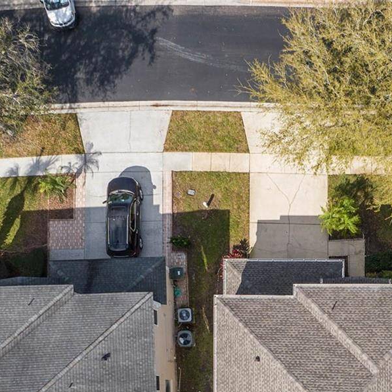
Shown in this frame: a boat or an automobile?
automobile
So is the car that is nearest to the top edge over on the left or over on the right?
left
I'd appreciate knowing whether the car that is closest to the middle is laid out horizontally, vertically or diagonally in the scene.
vertically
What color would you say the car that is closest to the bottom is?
black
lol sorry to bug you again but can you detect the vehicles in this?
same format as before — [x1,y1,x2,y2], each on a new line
[34,0,77,32]
[101,171,144,254]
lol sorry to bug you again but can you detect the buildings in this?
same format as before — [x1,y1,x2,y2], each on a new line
[213,258,392,392]
[0,257,177,392]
